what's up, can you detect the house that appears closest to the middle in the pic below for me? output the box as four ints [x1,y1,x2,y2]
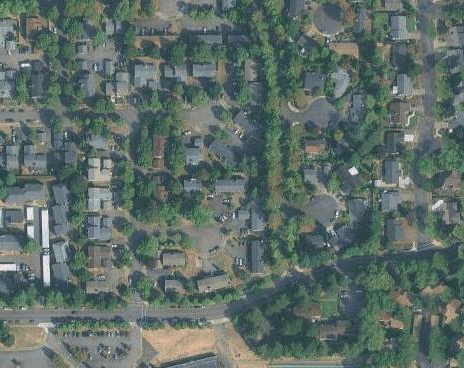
[214,179,247,192]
